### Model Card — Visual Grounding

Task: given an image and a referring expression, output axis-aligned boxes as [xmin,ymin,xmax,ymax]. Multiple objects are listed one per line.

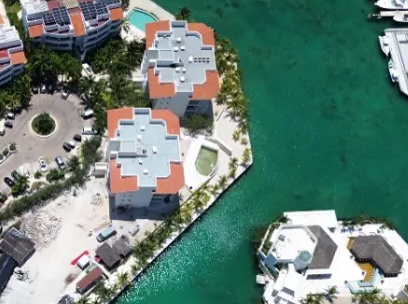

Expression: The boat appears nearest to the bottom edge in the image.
[387,57,401,84]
